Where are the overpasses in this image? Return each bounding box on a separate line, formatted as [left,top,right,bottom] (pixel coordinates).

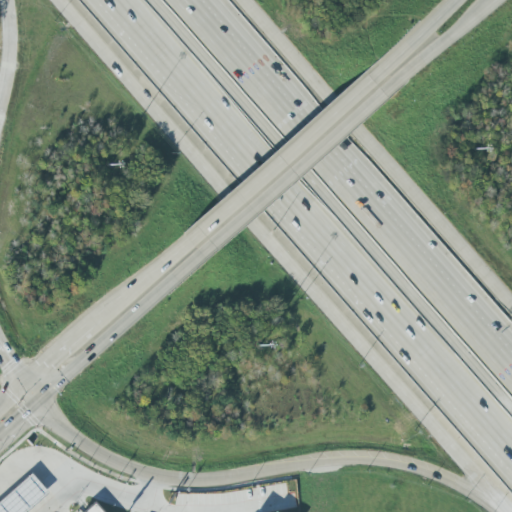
[188,60,402,257]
